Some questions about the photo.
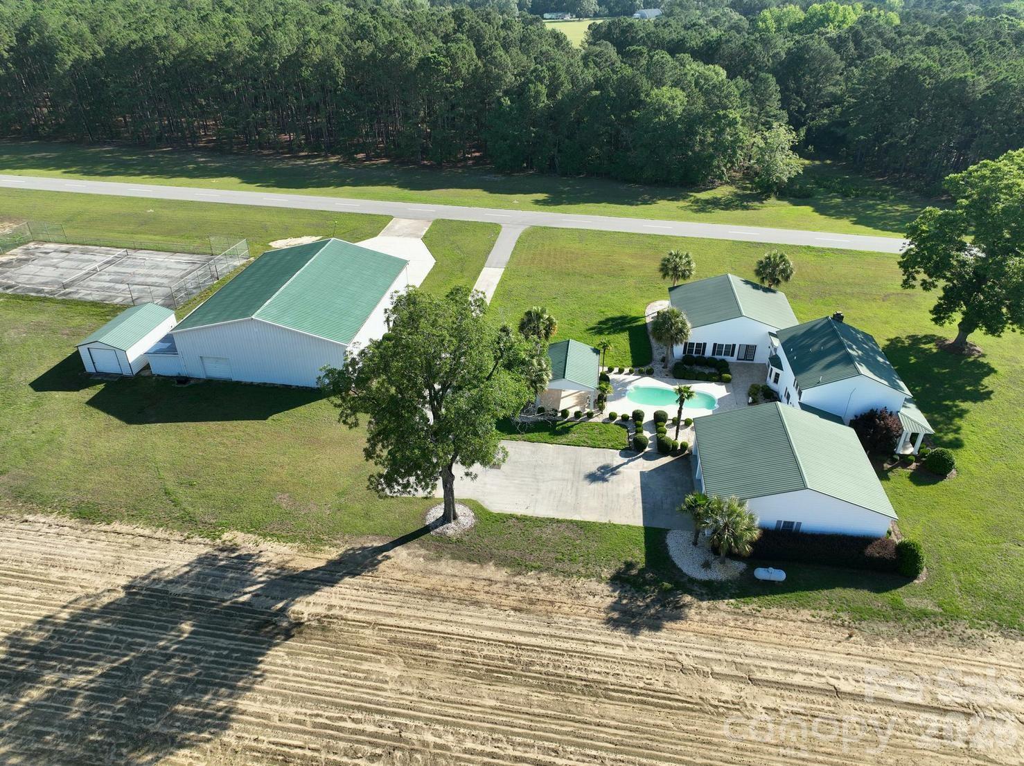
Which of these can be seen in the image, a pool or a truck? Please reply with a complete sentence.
Visible in the photo is a pool.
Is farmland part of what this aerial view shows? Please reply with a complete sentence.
Yes, some farmland is visible.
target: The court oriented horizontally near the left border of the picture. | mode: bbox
[0,239,247,310]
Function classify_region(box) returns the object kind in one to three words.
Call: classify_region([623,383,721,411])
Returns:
swimming pool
